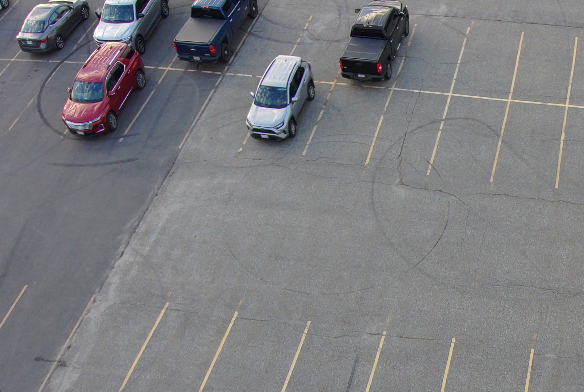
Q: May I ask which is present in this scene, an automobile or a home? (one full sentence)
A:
The one in the frame is an automobile.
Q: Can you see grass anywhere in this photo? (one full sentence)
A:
No, no grass is visible.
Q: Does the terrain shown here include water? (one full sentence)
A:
No, no water is visible.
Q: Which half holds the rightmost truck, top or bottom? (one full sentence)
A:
Seen from above, the rightmost truck lies in the top half of the view.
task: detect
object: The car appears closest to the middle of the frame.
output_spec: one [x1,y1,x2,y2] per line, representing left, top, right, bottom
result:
[246,54,313,143]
